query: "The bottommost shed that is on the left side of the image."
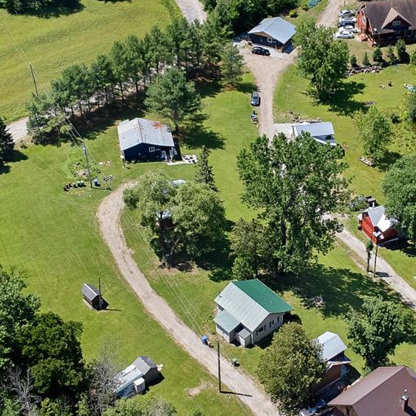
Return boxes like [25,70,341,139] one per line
[131,355,170,389]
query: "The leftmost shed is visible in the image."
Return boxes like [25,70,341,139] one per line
[79,283,103,310]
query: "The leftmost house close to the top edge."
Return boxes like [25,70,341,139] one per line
[247,17,298,51]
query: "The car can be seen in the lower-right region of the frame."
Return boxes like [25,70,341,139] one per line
[296,397,330,416]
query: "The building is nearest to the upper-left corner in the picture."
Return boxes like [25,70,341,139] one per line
[117,117,173,161]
